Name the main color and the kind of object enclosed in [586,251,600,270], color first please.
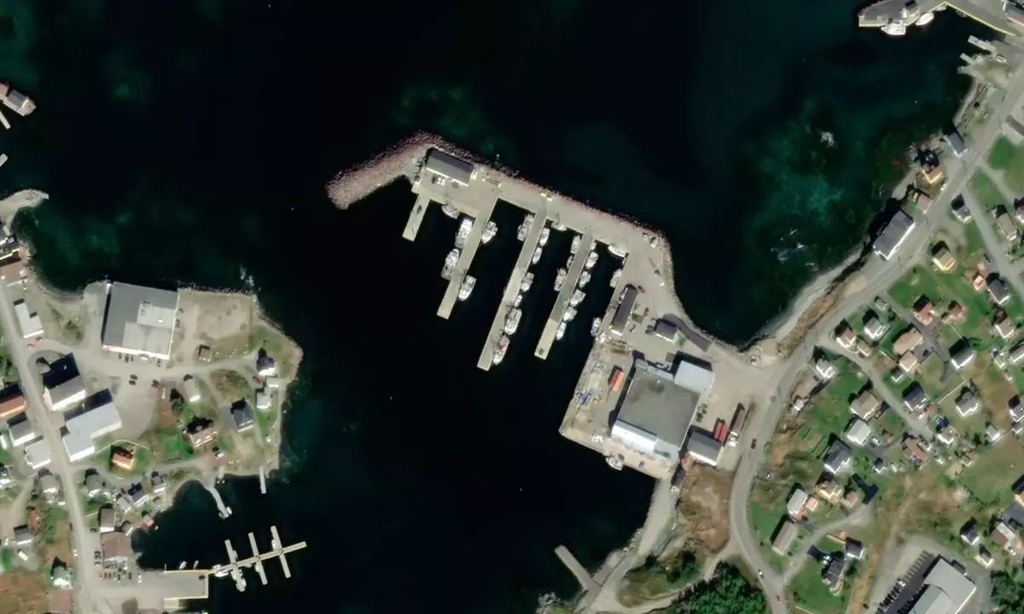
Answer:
white boat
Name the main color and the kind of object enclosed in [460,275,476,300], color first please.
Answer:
white boat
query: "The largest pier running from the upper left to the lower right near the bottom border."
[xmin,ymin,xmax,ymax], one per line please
[555,545,594,591]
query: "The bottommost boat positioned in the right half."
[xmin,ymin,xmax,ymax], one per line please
[607,456,625,470]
